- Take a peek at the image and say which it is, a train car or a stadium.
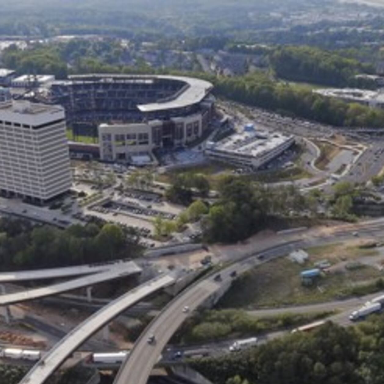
stadium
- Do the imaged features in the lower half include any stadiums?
No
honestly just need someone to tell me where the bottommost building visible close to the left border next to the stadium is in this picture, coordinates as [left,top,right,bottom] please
[0,99,75,205]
